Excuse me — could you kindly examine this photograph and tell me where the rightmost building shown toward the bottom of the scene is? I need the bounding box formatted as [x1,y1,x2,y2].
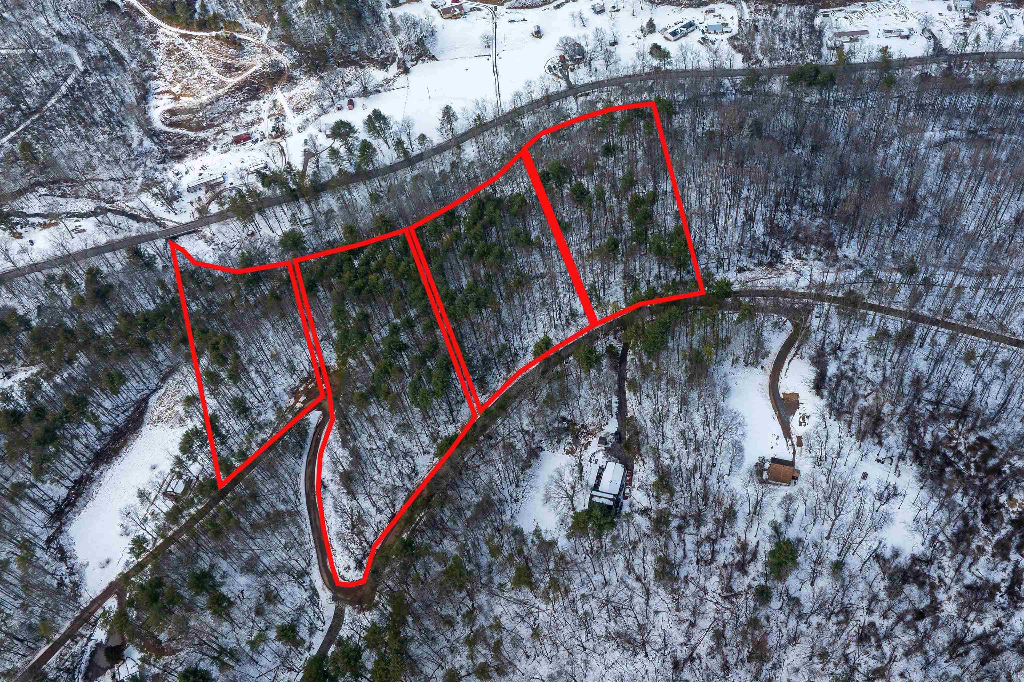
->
[760,461,801,492]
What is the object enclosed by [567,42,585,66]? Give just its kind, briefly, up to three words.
house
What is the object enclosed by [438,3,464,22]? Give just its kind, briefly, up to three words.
house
